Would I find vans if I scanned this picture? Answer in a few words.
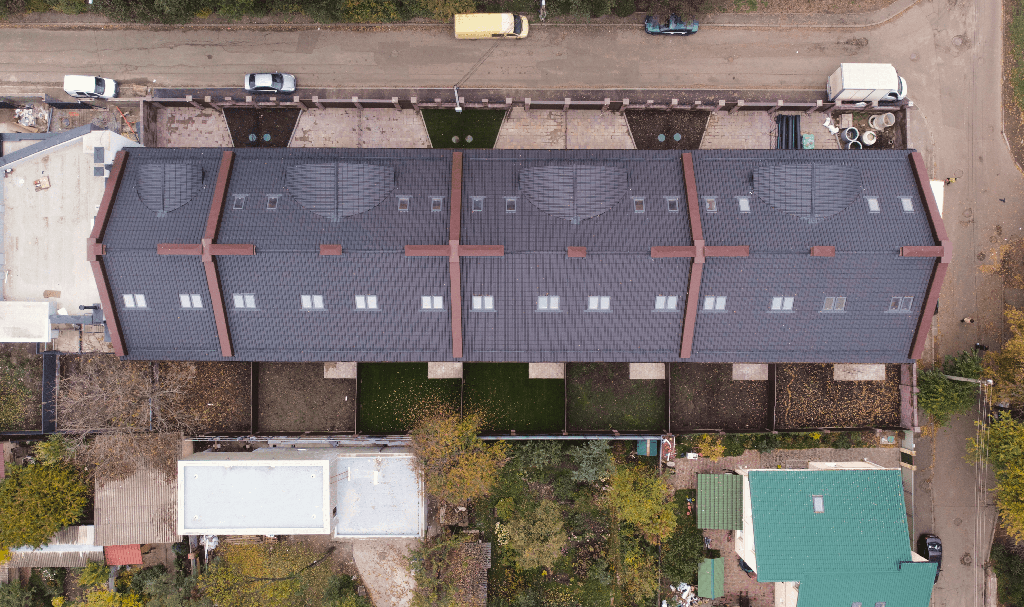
Yes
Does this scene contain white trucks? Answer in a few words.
Yes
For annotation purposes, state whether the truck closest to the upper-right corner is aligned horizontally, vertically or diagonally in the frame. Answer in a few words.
horizontally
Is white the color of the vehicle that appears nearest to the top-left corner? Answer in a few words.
Yes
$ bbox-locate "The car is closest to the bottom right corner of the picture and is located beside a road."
[917,532,944,584]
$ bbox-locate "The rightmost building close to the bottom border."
[736,458,937,607]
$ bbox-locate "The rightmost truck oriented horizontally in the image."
[823,63,909,99]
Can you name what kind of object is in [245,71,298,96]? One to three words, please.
car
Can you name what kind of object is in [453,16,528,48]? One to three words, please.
van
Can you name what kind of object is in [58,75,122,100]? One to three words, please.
vehicle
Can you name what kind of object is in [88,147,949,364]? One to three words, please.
house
